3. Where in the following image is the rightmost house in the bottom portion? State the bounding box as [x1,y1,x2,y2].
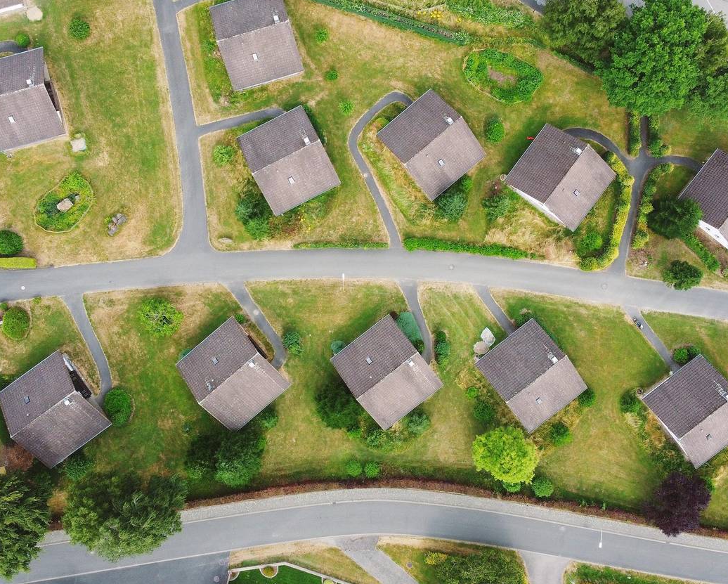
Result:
[640,353,728,468]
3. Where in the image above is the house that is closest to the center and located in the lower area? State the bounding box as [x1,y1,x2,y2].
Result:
[331,314,443,429]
